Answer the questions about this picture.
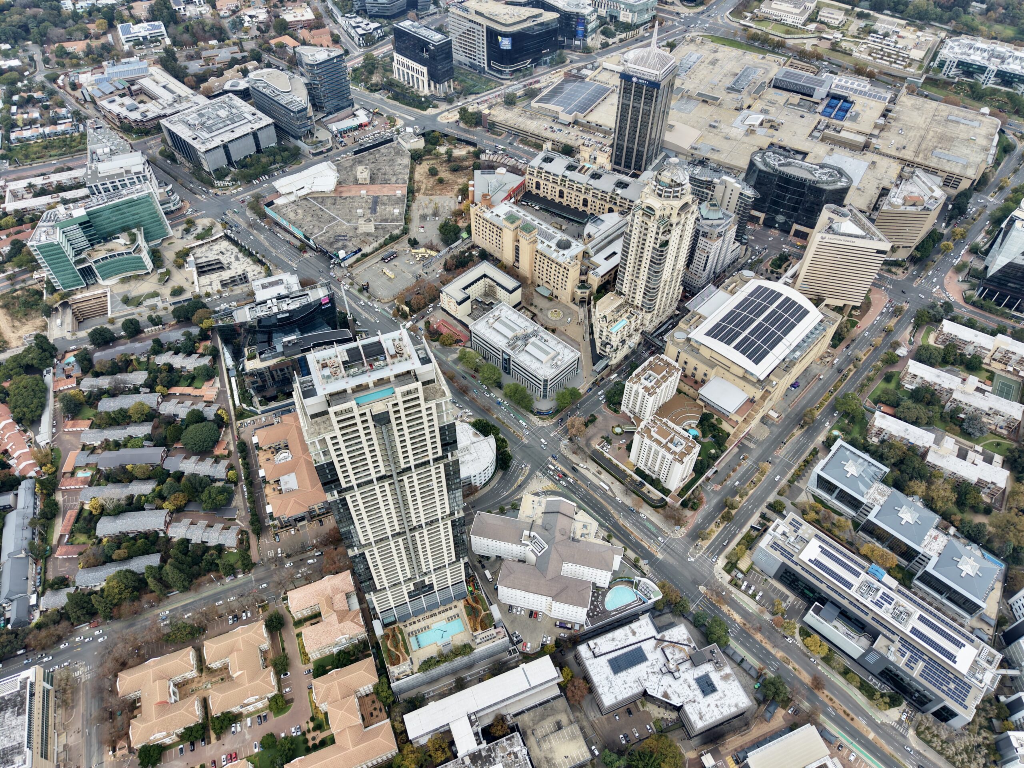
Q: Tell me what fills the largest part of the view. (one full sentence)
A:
The scene is dominated by buildings.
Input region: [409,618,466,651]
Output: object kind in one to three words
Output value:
swimming pool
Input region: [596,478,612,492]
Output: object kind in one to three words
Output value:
vehicle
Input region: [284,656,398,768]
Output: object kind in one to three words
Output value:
house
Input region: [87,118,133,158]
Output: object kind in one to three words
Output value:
building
